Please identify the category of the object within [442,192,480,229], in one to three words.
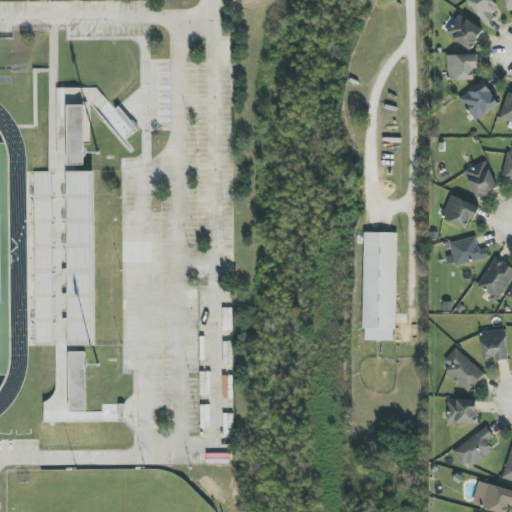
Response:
house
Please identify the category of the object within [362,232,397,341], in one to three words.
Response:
barn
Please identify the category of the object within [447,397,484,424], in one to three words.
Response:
house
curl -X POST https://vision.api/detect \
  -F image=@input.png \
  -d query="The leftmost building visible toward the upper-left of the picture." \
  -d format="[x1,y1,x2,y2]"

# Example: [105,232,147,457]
[65,104,90,165]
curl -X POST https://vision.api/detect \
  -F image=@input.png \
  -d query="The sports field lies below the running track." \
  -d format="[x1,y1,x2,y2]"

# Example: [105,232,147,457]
[6,469,210,512]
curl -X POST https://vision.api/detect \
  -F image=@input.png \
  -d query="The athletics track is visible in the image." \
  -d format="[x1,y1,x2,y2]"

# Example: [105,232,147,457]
[0,104,26,416]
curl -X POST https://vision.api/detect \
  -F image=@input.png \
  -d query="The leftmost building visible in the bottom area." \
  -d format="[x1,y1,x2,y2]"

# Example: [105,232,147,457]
[66,352,86,411]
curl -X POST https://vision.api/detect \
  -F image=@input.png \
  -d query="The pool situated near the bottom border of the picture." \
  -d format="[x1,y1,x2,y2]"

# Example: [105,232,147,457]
[464,480,478,502]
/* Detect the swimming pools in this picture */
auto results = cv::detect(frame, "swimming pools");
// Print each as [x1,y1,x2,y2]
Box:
[464,480,478,502]
[491,316,502,327]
